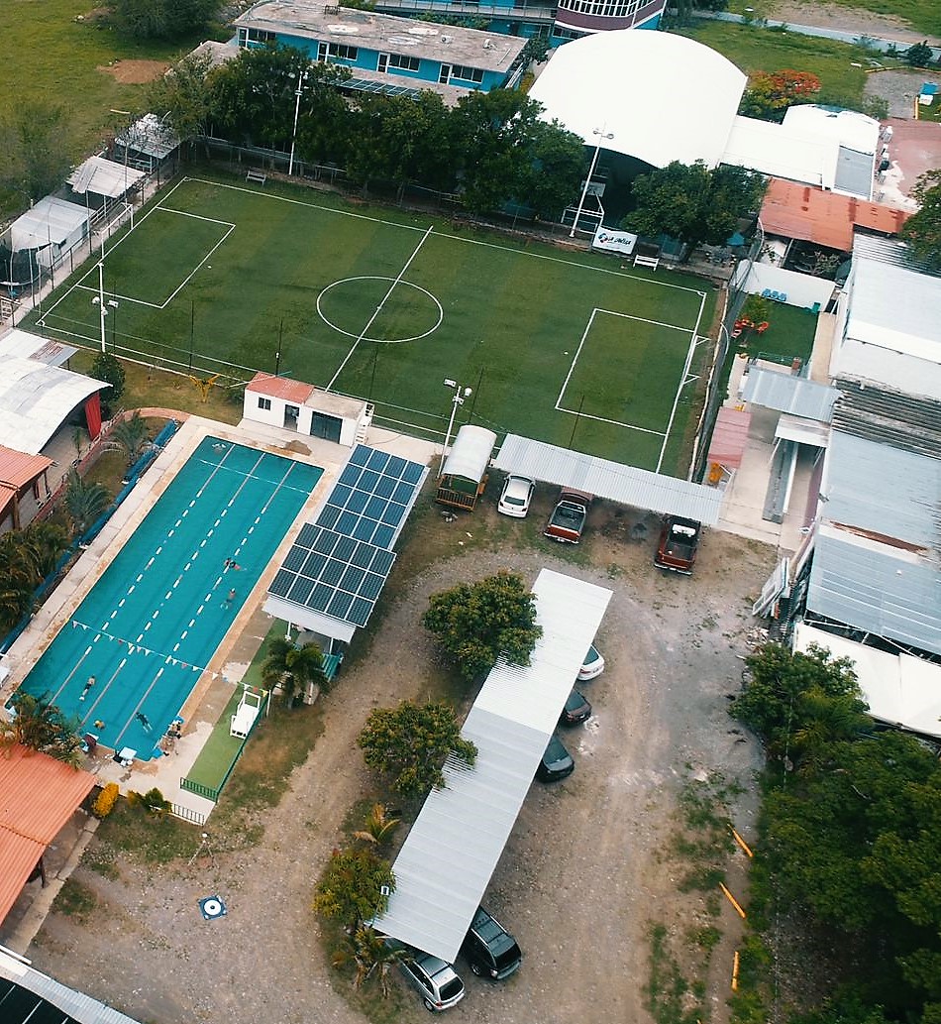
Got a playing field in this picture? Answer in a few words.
Yes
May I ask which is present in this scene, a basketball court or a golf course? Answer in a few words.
basketball court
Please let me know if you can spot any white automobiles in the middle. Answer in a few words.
Yes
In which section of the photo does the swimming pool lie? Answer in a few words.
left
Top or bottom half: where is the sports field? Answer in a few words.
top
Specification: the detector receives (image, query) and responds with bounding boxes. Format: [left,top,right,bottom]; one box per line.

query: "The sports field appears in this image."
[15,162,724,475]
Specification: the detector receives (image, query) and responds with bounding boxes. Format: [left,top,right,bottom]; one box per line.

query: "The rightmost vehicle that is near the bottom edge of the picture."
[457,902,516,984]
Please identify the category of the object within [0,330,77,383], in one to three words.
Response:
shed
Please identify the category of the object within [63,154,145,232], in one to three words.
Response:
shed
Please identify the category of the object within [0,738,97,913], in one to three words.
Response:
building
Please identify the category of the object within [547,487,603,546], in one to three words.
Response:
truck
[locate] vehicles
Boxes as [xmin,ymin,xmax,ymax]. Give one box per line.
[555,680,597,730]
[547,487,603,546]
[575,639,613,683]
[381,933,469,1014]
[532,734,575,785]
[498,471,540,516]
[457,902,516,984]
[655,515,709,577]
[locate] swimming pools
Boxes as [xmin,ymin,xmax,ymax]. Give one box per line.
[0,425,338,777]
